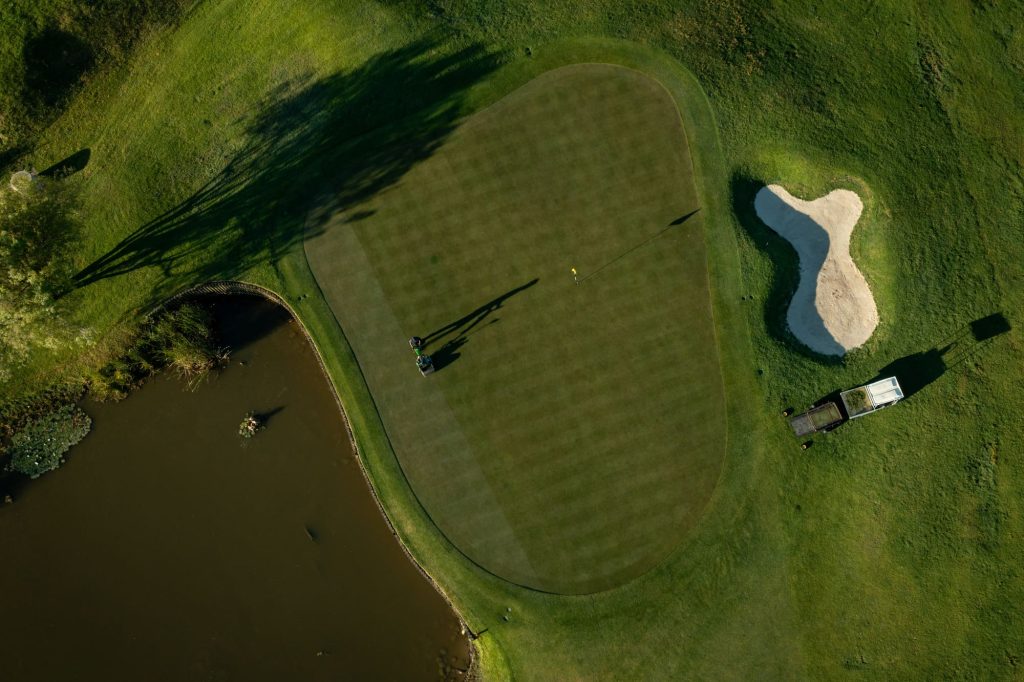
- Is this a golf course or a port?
golf course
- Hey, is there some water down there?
Yes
